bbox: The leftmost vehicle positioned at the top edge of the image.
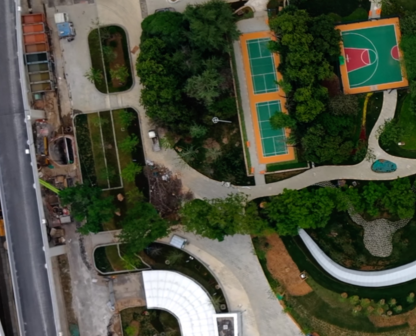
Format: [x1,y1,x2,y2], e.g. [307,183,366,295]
[51,12,70,40]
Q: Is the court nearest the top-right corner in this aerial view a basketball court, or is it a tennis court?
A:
basketball court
